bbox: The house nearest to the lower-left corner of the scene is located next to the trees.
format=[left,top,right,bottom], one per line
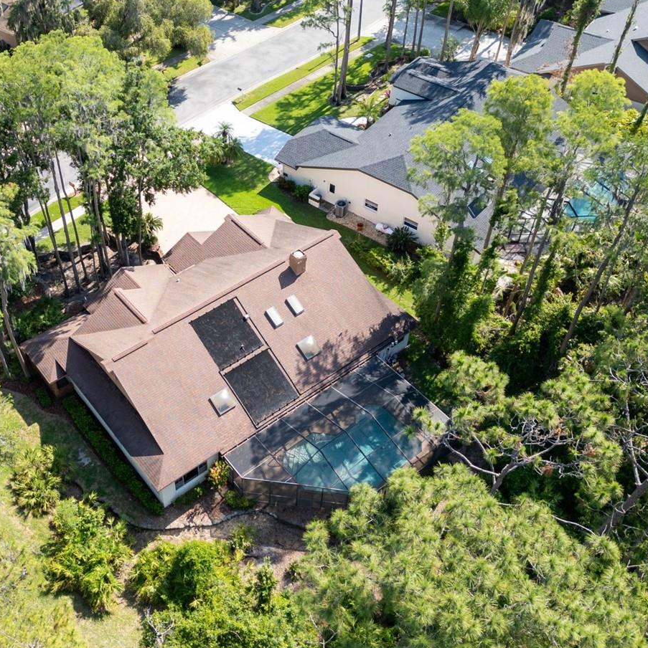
[21,205,416,507]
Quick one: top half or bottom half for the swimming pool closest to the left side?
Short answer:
bottom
